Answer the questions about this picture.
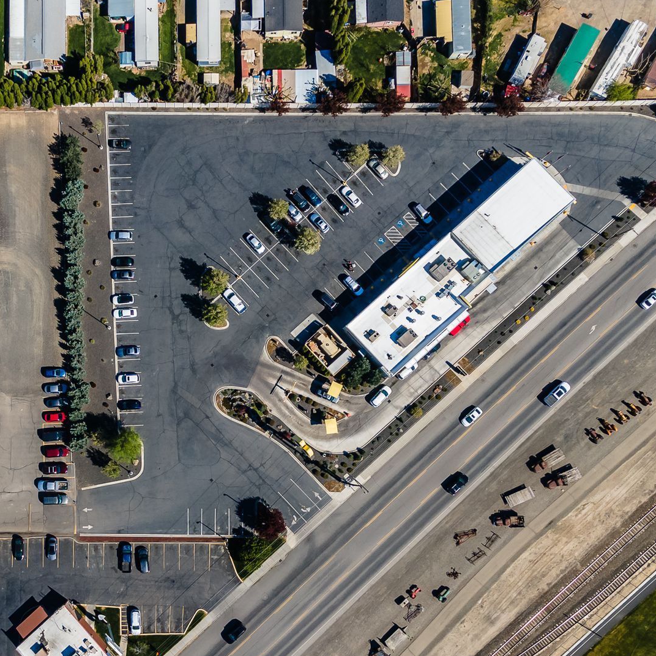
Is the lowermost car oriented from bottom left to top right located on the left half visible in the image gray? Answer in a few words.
No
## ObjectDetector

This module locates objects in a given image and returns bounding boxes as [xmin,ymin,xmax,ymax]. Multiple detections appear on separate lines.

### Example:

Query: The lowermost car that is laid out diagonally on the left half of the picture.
[221,619,247,643]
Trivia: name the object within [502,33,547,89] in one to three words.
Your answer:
trailer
